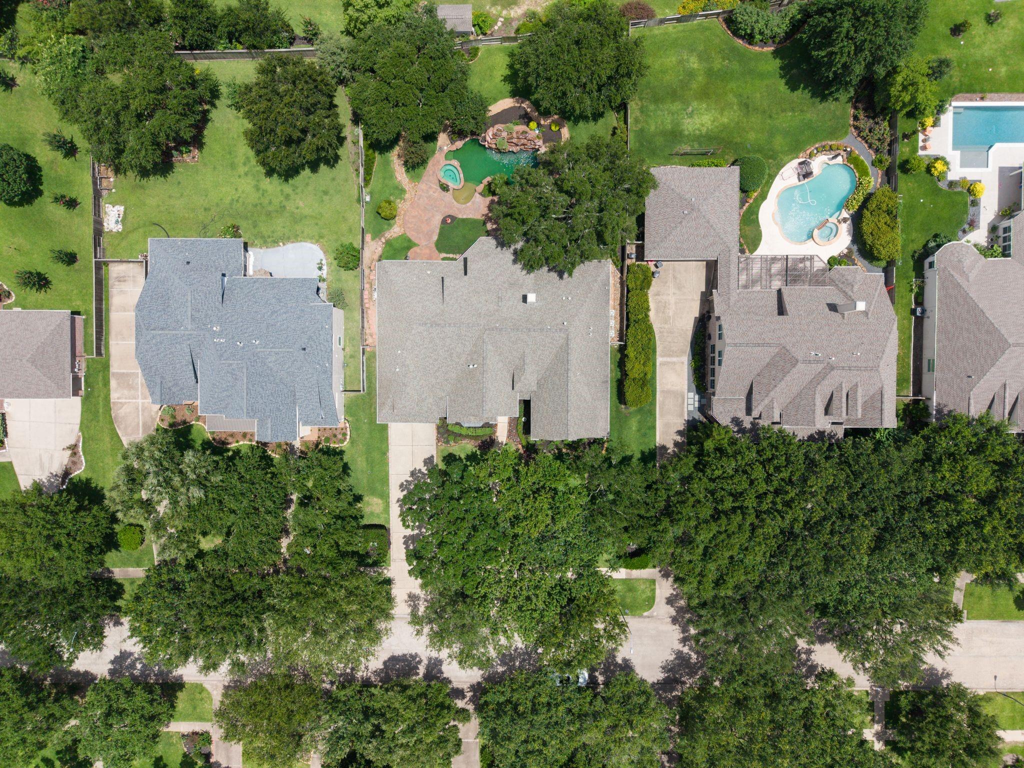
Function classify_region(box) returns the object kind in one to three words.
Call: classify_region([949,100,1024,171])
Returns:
swimming pool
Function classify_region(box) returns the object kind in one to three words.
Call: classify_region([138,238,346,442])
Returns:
house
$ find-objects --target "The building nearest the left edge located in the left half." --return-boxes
[0,310,85,399]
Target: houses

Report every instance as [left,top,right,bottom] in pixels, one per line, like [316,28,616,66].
[376,236,611,441]
[923,208,1024,435]
[644,165,898,443]
[0,310,85,399]
[138,238,346,442]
